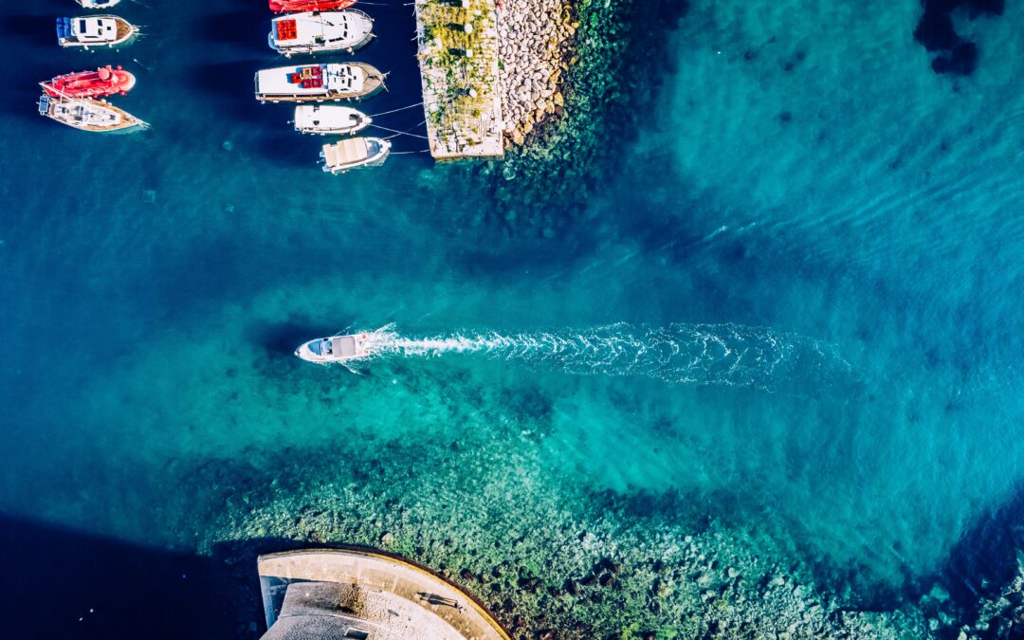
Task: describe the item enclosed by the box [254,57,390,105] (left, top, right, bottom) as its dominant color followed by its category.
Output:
white boat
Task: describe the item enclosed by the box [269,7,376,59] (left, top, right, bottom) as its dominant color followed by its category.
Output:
white boat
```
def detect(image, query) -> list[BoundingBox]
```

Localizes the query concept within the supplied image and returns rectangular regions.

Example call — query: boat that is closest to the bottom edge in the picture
[295,333,374,361]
